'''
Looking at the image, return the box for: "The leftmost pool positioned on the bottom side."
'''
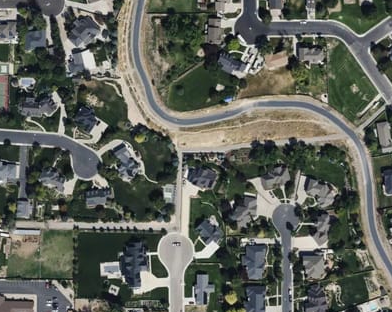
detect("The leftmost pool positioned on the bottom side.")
[100,262,121,278]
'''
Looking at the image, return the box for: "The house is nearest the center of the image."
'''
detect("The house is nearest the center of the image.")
[187,163,219,190]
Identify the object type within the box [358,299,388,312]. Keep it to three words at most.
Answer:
swimming pool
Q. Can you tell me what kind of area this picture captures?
residential area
